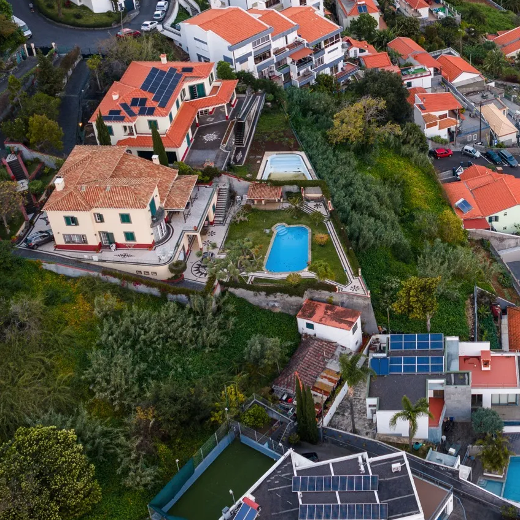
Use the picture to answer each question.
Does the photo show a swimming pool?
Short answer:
Yes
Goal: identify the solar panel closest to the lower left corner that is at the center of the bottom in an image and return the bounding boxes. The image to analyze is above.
[234,501,260,520]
